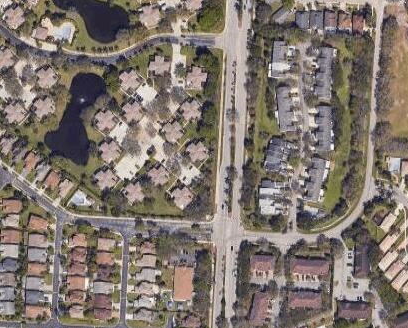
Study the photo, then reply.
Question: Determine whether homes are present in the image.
Yes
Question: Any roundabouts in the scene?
No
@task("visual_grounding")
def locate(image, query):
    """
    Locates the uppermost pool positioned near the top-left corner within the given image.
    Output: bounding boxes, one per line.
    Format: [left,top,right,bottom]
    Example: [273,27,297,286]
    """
[56,23,74,40]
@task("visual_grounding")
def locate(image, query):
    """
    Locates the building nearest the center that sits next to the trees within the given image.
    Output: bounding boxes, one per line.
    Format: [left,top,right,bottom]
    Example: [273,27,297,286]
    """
[184,140,208,162]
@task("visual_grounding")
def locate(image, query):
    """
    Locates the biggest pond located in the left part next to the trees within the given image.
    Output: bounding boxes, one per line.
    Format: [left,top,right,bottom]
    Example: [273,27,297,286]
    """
[43,71,106,166]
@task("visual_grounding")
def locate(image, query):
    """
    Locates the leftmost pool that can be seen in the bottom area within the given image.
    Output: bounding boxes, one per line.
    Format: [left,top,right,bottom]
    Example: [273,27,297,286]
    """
[71,190,91,209]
